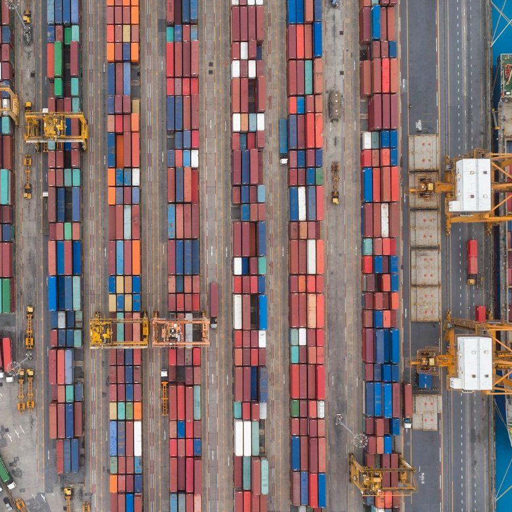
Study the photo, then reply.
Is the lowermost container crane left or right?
right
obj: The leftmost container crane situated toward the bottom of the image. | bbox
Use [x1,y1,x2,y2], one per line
[88,309,152,350]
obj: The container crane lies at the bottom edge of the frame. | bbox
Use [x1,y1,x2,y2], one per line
[351,449,424,499]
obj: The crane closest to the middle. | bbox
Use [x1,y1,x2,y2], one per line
[152,309,212,350]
